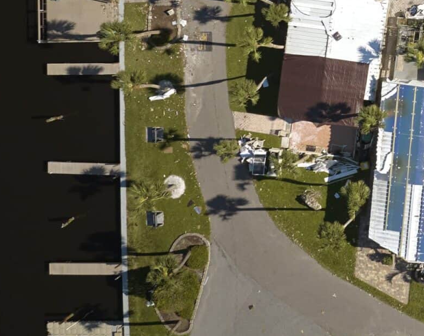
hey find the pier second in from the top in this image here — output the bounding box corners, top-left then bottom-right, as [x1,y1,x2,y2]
[48,161,120,178]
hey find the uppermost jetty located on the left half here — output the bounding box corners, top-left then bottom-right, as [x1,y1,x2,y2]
[47,64,118,77]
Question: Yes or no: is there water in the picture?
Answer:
Yes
